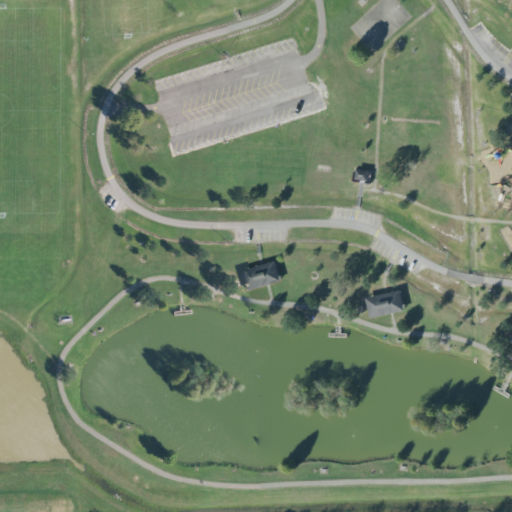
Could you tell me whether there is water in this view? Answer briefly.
Yes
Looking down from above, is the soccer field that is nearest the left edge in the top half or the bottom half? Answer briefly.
top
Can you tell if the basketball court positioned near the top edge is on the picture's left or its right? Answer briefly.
right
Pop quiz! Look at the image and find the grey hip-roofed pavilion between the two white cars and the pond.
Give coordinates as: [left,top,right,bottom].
[366,291,404,318]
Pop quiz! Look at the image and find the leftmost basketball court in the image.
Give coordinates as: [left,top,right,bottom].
[351,0,412,52]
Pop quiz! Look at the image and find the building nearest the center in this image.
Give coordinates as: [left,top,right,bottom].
[242,261,282,290]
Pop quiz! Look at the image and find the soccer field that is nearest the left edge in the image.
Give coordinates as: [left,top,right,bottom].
[0,0,62,215]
